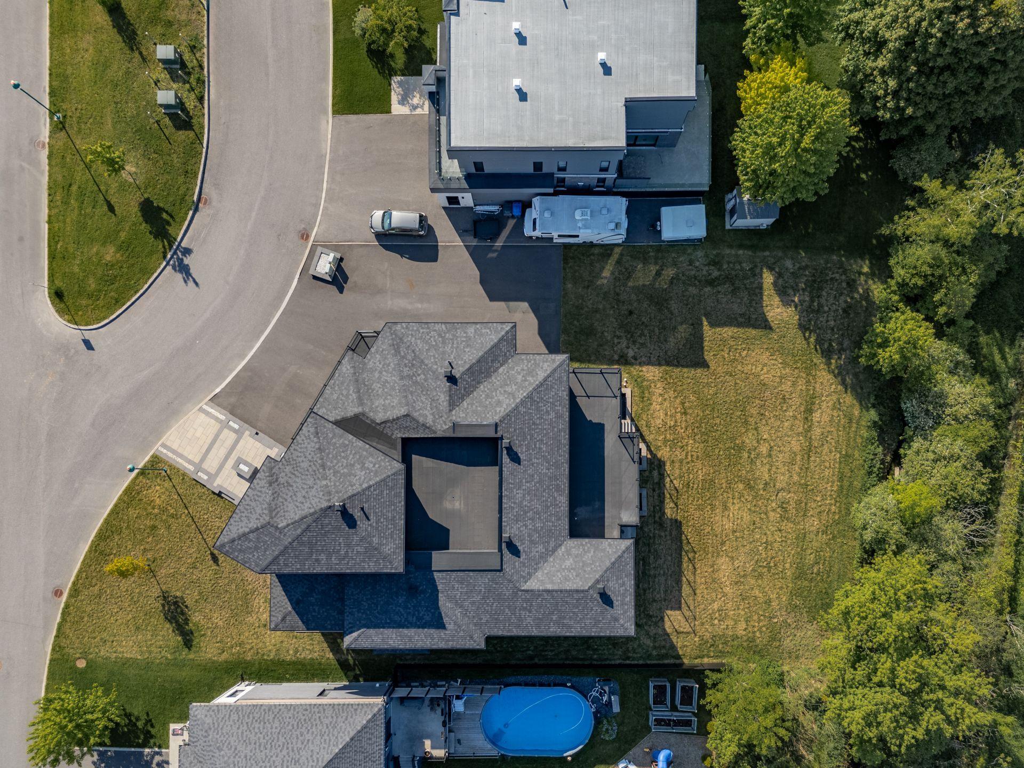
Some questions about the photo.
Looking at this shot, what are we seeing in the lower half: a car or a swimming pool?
swimming pool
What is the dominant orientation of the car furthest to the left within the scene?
from side to side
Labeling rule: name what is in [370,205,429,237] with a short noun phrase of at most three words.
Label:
car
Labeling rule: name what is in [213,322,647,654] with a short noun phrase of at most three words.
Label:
house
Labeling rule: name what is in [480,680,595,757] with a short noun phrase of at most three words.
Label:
swimming pool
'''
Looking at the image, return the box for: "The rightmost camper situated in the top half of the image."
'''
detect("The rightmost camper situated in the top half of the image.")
[645,206,708,240]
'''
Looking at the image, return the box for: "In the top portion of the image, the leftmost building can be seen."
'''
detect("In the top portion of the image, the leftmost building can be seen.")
[423,0,709,207]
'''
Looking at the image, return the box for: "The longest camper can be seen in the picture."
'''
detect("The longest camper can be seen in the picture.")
[524,195,627,245]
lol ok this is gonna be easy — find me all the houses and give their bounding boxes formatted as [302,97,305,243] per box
[178,686,388,768]
[423,0,709,207]
[213,322,647,654]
